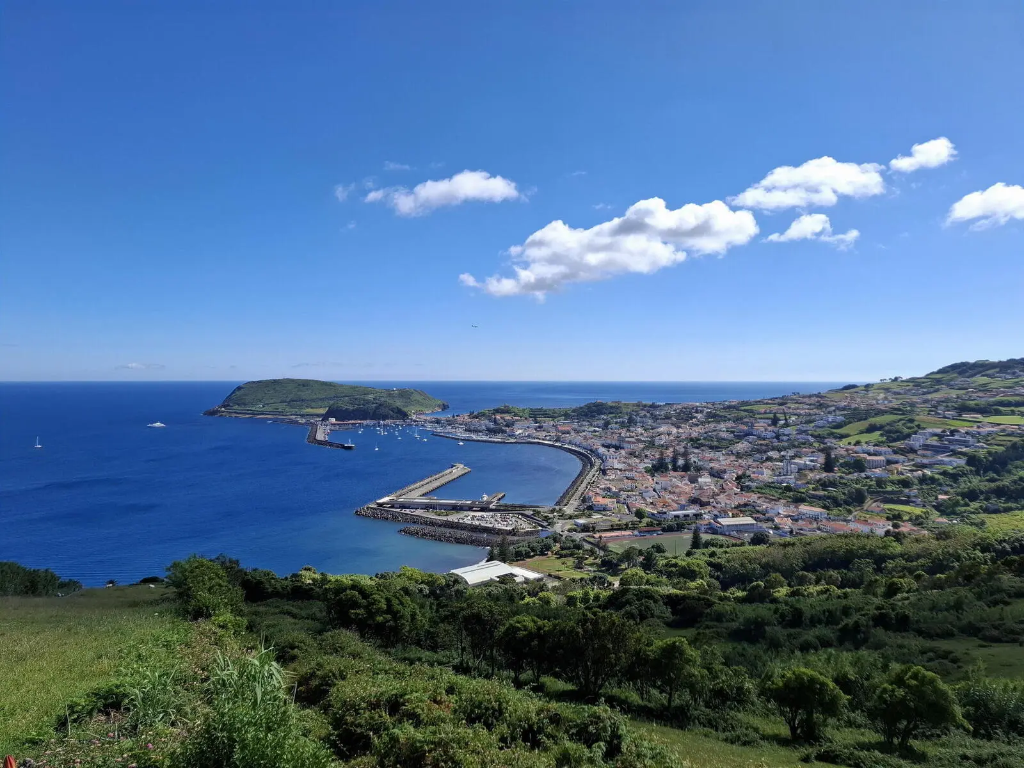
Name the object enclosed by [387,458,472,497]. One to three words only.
pier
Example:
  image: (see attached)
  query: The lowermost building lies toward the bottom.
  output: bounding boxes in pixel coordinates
[443,560,552,586]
